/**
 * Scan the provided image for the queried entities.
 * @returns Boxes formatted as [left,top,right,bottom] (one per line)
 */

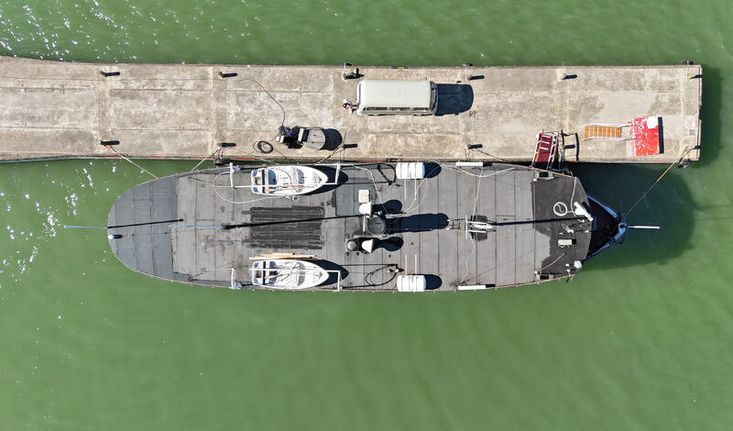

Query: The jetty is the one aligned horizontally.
[0,55,702,164]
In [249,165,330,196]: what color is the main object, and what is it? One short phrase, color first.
white boat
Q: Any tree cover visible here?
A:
No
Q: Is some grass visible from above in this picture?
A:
No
